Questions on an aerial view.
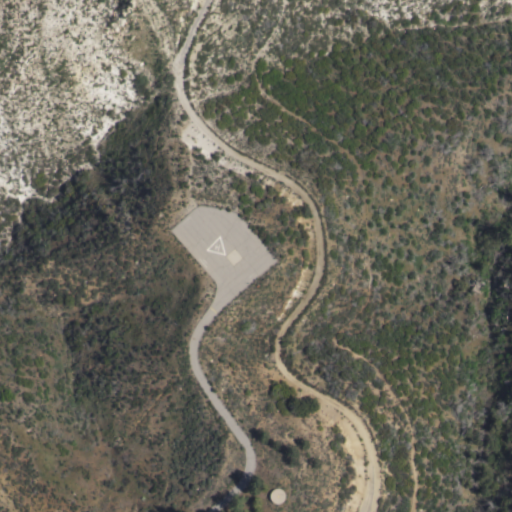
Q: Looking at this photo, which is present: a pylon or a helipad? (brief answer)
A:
helipad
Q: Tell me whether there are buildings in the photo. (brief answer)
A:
No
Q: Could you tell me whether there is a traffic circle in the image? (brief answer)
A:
No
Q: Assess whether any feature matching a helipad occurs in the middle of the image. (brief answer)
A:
Yes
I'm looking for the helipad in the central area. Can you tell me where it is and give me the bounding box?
[172,206,276,313]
